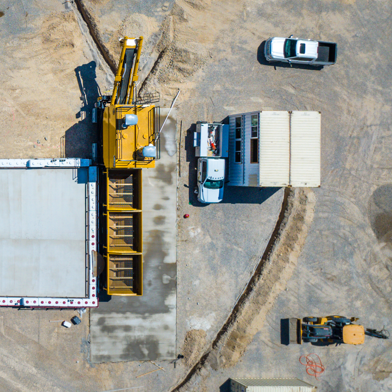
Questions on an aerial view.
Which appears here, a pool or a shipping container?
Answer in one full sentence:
I can see a shipping container in this picture.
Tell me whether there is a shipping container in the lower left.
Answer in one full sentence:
No, looking in the lower left, there is no shipping container.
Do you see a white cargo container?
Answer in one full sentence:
Yes, you can see a white cargo container in this photo.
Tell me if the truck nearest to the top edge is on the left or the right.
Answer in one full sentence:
The truck nearest to the top edge sits on the right side.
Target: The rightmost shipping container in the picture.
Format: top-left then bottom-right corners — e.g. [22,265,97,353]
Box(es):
[290,111,320,187]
